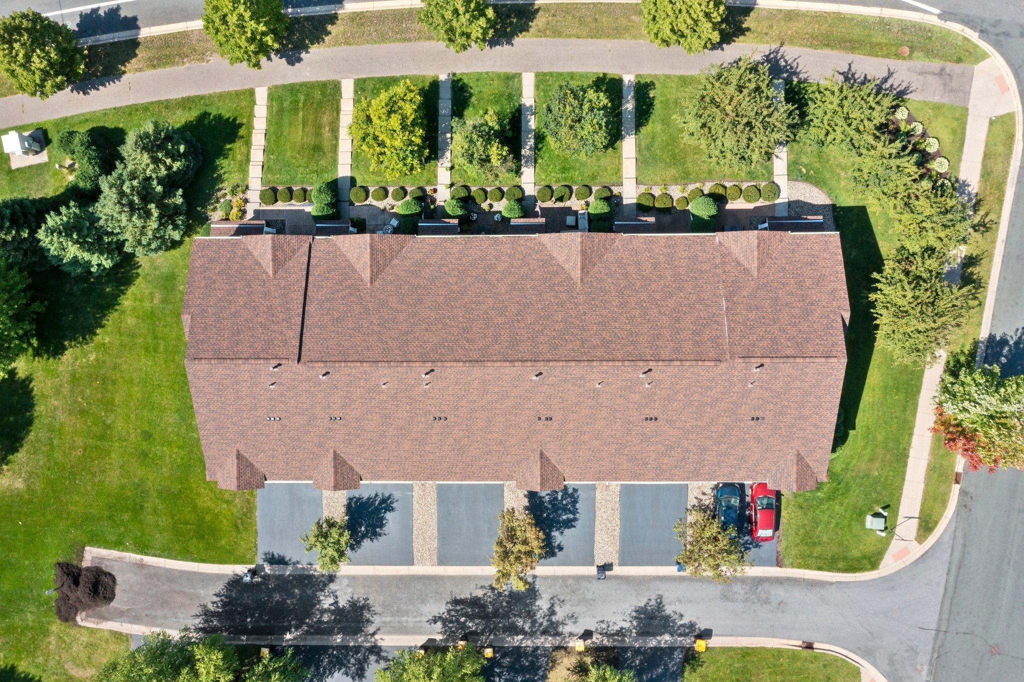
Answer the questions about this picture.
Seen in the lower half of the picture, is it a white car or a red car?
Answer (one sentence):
The feature located in the lower half of the picture is a red car.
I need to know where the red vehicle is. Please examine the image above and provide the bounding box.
[748,484,780,542]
